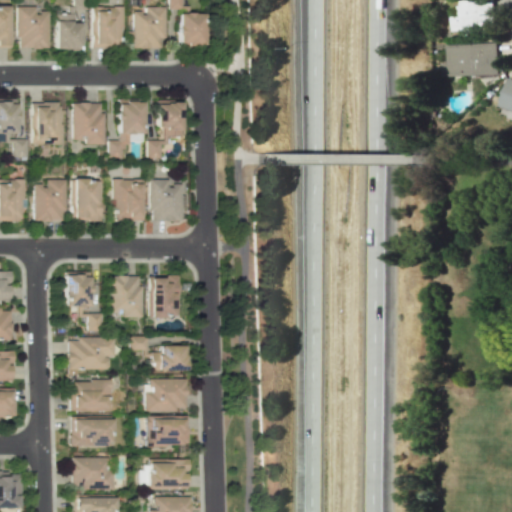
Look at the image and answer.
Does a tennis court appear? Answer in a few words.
No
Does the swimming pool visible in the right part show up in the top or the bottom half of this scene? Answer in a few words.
top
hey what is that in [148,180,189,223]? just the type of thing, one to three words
house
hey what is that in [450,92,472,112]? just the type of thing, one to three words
swimming pool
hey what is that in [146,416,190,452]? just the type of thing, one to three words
house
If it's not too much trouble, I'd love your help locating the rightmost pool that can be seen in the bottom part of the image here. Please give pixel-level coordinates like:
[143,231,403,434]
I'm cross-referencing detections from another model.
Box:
[157,319,184,332]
